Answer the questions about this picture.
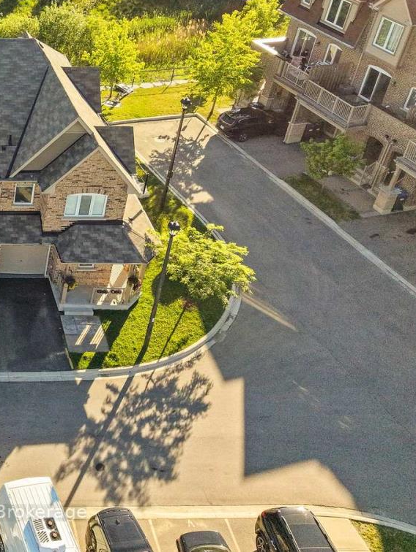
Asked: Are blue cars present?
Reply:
No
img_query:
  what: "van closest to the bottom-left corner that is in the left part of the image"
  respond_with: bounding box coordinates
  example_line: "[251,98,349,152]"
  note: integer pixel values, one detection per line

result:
[0,474,77,552]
